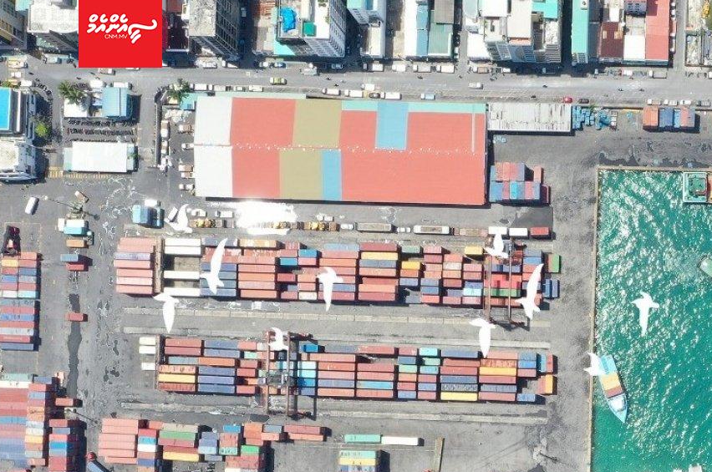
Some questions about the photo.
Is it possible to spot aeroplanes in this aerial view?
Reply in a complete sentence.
No, there's no aeroplane here.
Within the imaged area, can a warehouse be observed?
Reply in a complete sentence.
Yes, there's a warehouse here.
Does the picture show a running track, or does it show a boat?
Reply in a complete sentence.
The one in the frame is a boat.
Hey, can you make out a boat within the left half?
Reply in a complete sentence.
No, no boat can be made out within the left half.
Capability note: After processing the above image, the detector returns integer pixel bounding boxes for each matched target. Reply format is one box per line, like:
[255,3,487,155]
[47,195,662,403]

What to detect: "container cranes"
[266,331,307,418]
[488,227,520,333]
